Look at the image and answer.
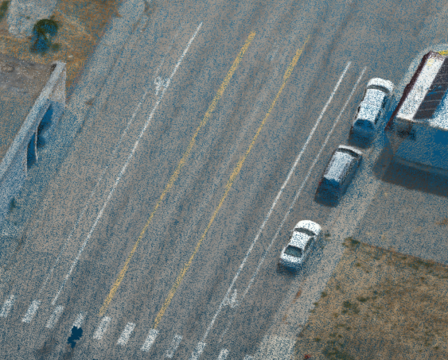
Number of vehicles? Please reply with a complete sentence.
I count 3 vehicles.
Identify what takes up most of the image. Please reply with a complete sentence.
For the most part, this view shows paved ground.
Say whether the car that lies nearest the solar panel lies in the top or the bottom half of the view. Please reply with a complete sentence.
The car that lies nearest the solar panel is in the top half of the image.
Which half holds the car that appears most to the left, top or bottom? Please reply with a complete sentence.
The car that appears most to the left is in the bottom half of the image.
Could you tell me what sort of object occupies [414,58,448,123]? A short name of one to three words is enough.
solar panel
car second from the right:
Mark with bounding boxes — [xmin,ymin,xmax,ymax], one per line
[315,147,363,200]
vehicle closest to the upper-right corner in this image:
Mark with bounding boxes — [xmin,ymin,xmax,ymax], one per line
[347,84,396,139]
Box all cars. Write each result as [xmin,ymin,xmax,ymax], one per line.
[277,220,322,273]
[347,84,396,139]
[315,147,363,200]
